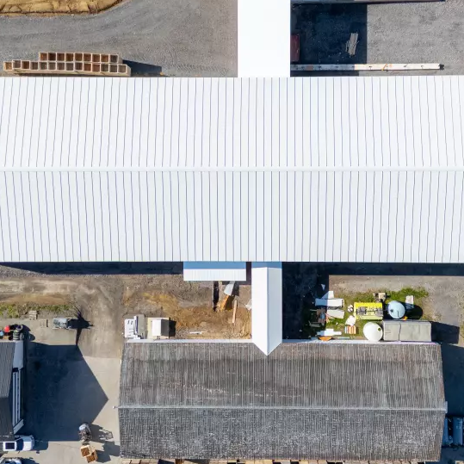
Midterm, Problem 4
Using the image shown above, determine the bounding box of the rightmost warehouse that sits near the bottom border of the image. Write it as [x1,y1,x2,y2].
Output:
[119,339,448,461]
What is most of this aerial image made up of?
buildings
